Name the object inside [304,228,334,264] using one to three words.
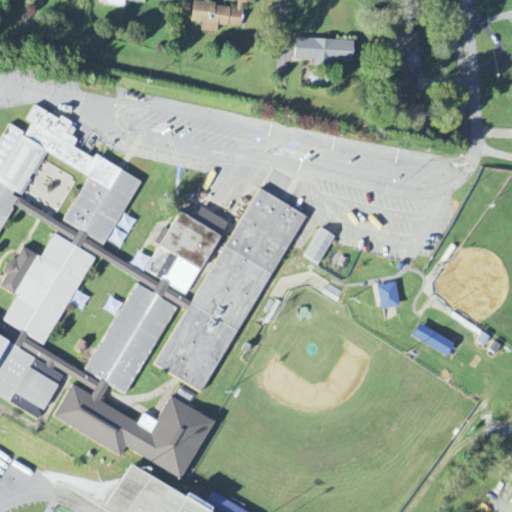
shed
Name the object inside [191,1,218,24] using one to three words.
house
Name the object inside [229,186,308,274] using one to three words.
building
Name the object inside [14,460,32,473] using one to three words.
vehicle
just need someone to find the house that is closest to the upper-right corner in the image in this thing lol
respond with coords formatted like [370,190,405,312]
[294,38,354,66]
